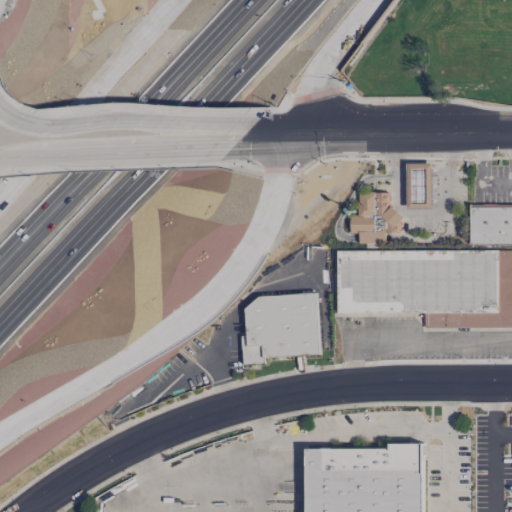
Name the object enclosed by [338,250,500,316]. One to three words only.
building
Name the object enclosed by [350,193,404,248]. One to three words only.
building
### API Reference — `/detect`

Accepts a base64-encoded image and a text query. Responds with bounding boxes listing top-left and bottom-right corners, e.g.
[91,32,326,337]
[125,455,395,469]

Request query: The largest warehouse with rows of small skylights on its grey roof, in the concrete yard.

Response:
[304,442,428,512]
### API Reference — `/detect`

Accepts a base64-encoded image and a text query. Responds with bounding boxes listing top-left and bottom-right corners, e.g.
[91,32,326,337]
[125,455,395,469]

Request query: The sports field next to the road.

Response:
[350,0,512,106]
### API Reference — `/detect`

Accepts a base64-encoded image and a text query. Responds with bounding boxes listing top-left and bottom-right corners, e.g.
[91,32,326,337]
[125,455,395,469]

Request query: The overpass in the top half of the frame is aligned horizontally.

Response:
[0,82,270,176]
